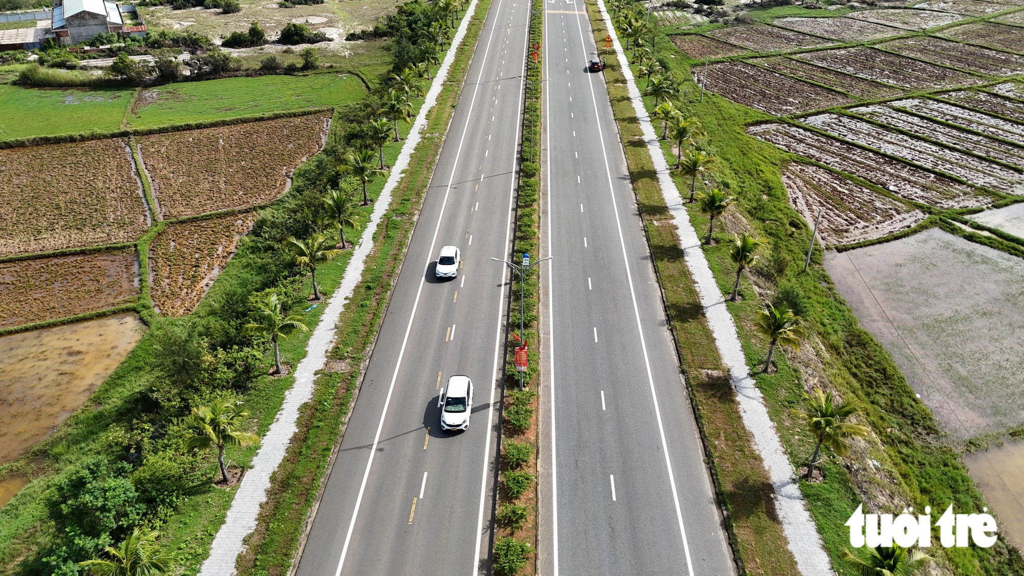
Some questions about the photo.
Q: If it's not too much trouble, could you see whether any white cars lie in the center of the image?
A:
Yes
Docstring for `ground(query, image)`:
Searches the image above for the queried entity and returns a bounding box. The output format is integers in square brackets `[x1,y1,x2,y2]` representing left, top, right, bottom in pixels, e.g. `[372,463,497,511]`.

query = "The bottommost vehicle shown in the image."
[438,376,473,432]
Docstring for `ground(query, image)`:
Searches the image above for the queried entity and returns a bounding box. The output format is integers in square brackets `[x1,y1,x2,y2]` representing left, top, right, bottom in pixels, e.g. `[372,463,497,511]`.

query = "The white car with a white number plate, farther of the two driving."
[434,245,461,279]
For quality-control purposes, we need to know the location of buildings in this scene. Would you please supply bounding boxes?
[44,0,131,43]
[0,28,42,47]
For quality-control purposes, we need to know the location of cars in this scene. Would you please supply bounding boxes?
[438,376,473,432]
[590,58,603,69]
[434,245,461,279]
